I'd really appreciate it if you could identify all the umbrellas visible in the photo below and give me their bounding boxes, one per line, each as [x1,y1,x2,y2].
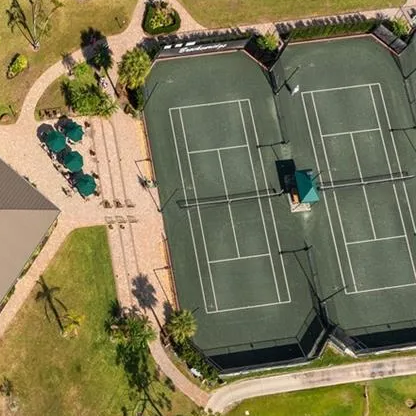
[46,130,66,153]
[65,121,85,144]
[76,173,96,196]
[64,150,84,172]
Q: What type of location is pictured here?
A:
sports ground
